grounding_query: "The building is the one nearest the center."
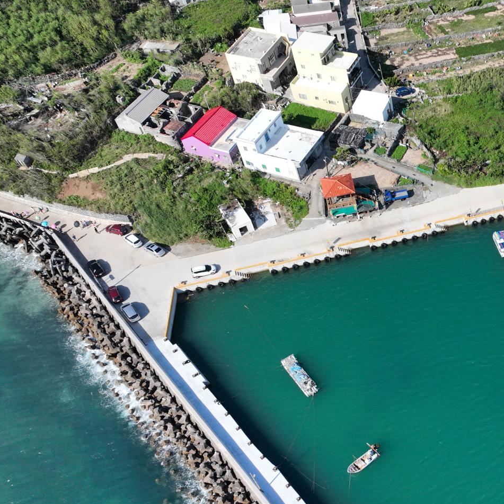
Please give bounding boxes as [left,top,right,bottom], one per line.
[218,200,260,247]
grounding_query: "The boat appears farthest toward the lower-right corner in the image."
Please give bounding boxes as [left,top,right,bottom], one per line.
[348,439,381,471]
